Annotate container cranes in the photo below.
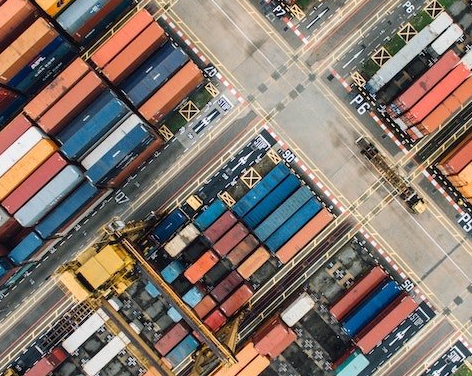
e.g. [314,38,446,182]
[49,207,250,376]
